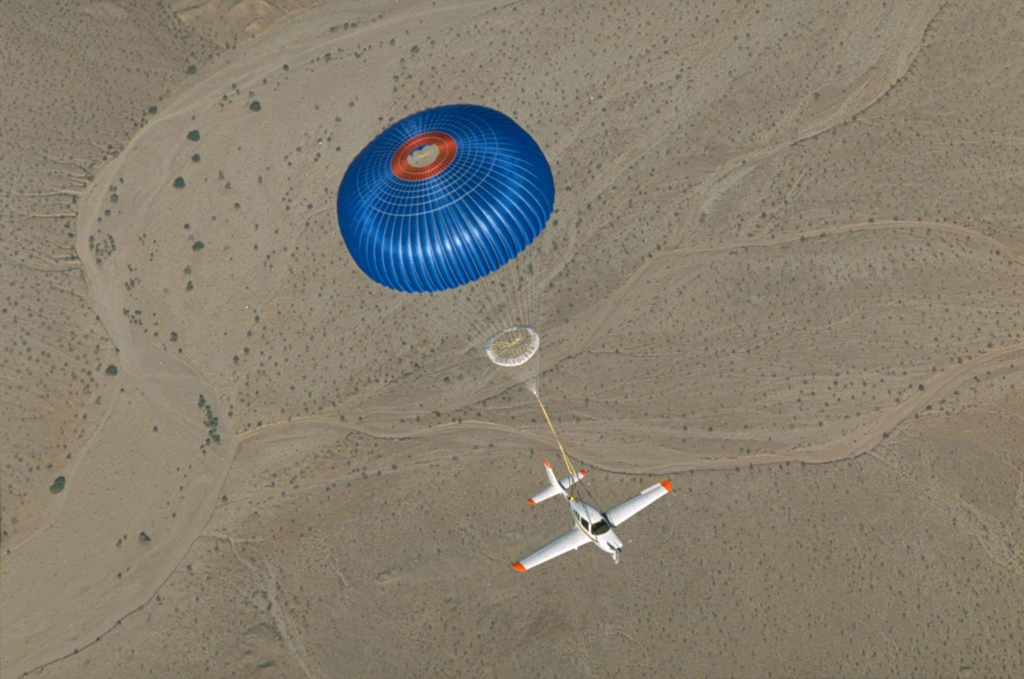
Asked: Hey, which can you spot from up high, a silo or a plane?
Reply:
plane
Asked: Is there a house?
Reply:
No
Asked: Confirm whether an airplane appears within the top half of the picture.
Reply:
No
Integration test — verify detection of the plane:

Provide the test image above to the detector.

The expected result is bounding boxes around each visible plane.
[513,455,678,568]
